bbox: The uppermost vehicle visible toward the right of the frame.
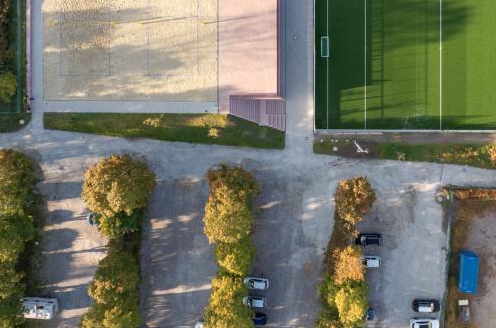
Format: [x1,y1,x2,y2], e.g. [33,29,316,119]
[354,231,383,246]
